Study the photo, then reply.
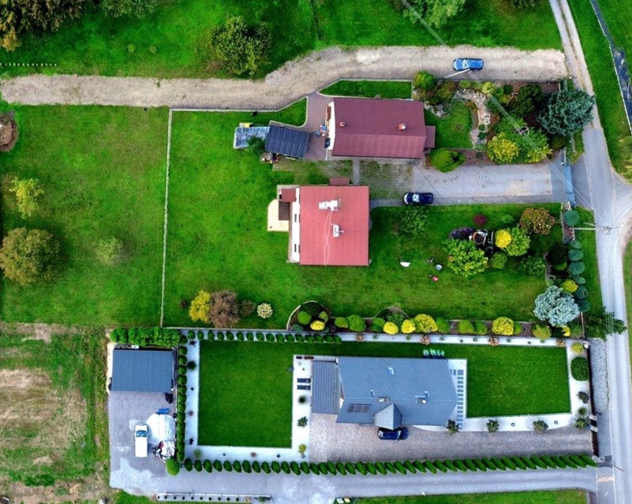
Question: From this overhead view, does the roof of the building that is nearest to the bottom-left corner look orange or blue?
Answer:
blue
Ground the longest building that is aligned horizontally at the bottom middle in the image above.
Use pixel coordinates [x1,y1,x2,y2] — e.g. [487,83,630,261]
[307,356,458,430]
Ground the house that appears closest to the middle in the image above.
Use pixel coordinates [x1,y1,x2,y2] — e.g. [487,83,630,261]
[278,178,370,266]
